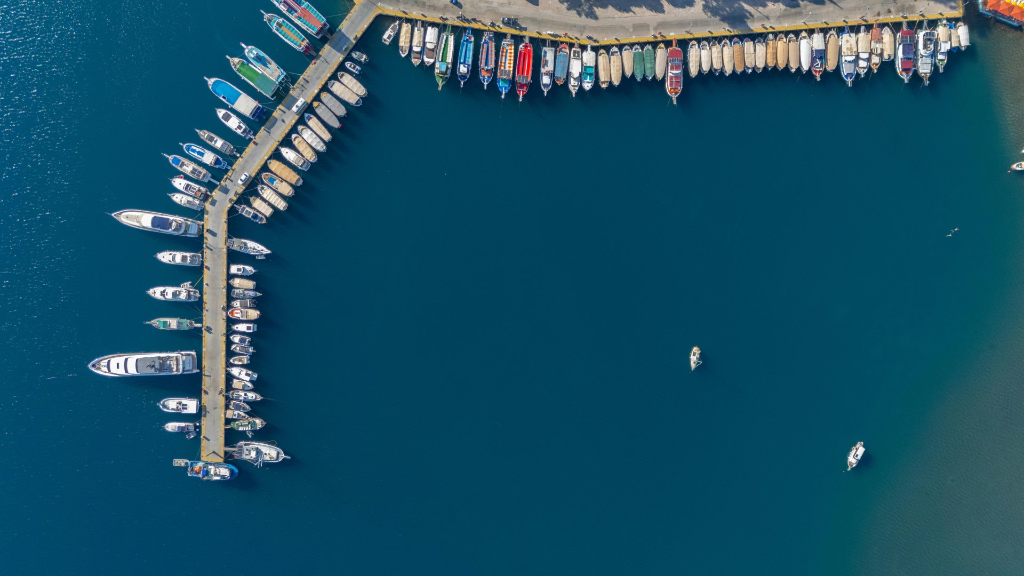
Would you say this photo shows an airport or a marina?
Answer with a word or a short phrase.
marina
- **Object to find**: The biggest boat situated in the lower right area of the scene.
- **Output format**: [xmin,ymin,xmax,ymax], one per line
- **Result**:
[849,440,866,470]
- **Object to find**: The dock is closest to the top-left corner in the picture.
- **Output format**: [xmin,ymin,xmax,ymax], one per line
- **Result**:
[201,7,376,462]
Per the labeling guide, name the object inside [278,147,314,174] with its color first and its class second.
white boat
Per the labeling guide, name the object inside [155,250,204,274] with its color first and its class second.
white boat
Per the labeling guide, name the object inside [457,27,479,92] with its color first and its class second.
blue boat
